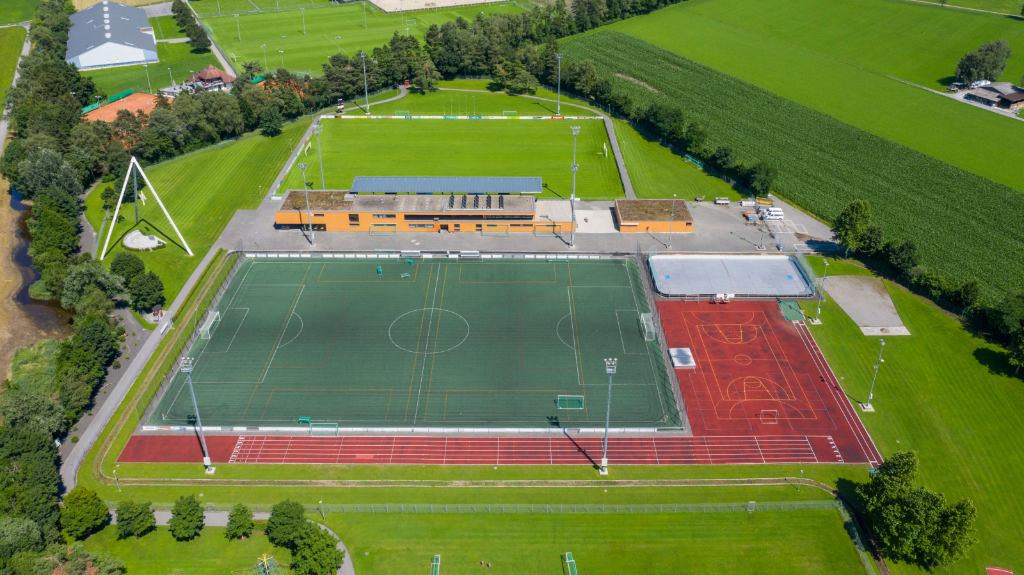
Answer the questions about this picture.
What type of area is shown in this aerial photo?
sports ground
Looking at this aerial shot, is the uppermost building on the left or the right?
left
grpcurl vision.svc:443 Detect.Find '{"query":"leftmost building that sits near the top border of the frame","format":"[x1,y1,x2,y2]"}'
[66,1,161,70]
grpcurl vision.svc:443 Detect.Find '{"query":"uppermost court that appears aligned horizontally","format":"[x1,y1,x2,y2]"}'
[649,253,816,297]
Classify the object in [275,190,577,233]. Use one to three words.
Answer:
building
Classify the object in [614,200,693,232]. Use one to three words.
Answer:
building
